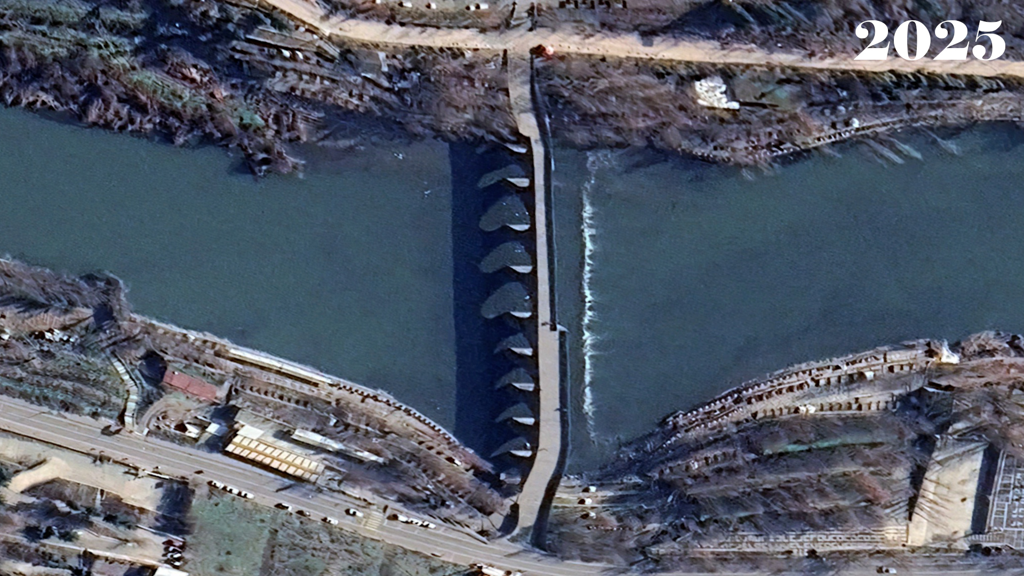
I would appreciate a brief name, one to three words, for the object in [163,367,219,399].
house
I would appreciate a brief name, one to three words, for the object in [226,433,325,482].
building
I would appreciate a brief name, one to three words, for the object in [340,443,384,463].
shed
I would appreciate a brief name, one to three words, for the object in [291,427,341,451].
shed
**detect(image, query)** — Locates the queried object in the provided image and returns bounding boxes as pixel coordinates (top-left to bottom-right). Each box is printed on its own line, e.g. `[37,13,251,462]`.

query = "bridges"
[506,52,571,540]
